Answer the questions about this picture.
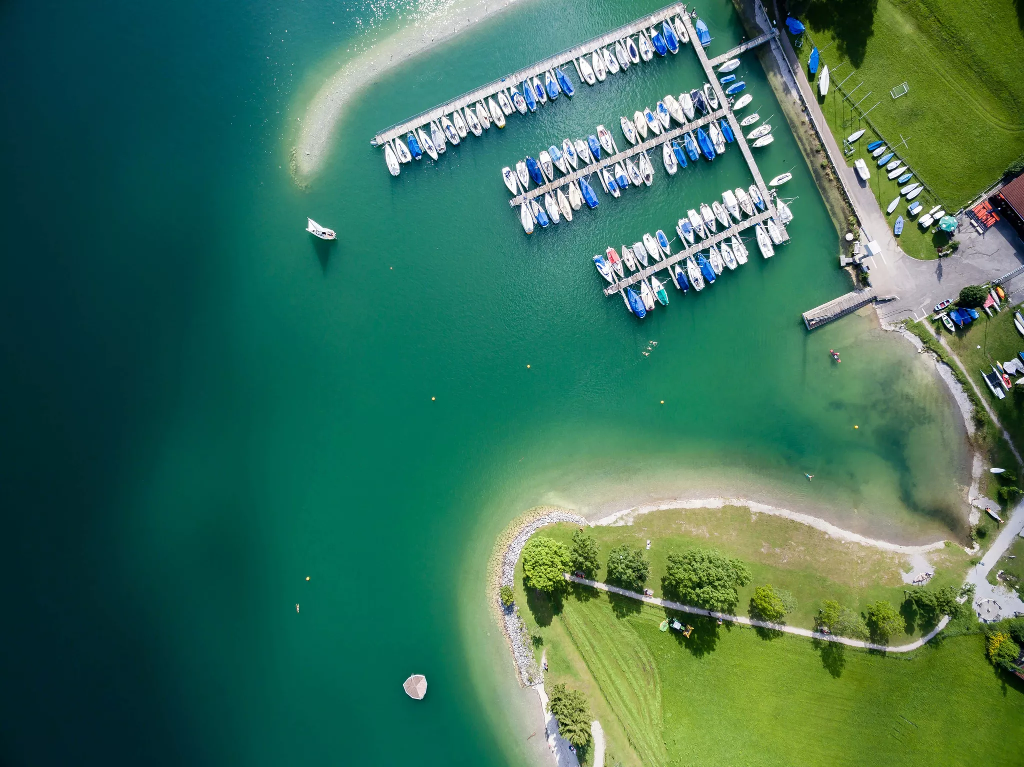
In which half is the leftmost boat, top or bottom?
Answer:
top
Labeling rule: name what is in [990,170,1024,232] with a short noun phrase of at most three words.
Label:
house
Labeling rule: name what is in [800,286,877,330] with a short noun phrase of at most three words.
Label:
pier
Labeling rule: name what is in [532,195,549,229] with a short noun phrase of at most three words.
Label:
boat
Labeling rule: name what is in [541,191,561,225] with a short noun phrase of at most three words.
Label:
boat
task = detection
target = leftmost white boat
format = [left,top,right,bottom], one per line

[305,219,338,240]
